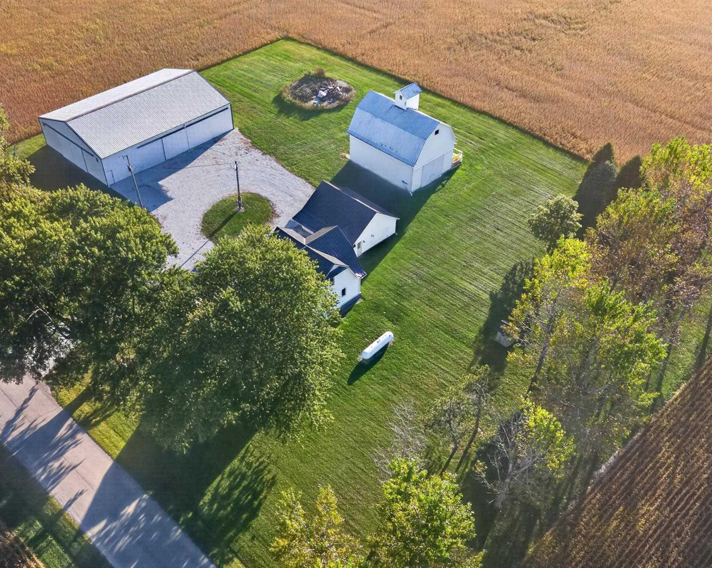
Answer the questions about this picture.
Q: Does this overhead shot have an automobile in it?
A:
No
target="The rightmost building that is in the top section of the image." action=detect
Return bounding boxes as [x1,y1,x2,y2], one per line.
[344,83,457,193]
